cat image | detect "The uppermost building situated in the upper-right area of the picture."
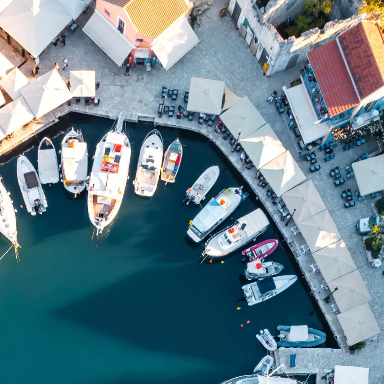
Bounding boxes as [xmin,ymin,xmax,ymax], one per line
[224,0,364,72]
